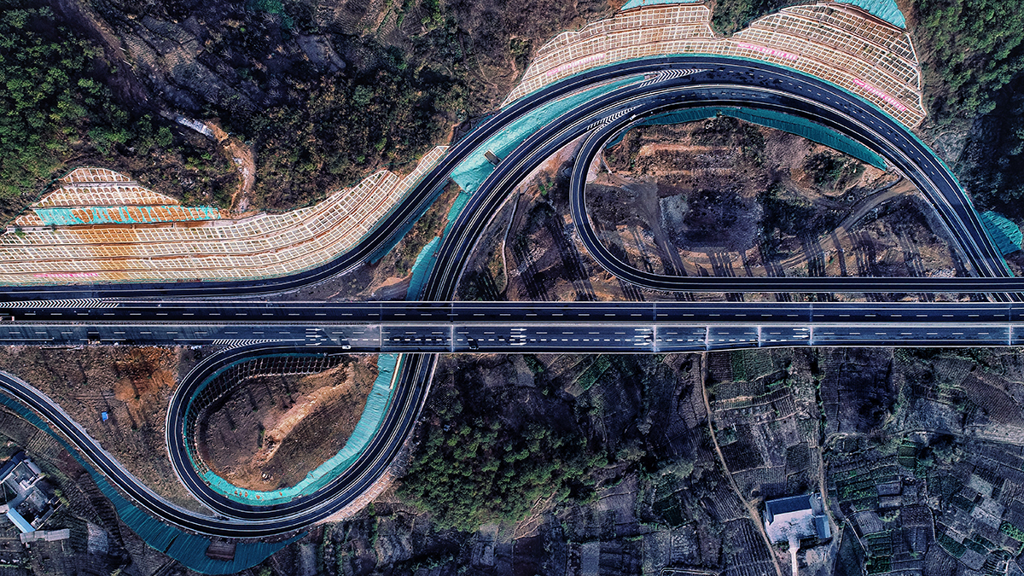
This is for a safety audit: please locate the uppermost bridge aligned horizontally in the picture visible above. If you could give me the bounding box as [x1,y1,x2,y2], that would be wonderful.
[571,150,1024,292]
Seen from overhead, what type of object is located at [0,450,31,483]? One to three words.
house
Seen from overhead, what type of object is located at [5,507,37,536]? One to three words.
shed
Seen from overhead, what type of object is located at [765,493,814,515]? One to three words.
house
